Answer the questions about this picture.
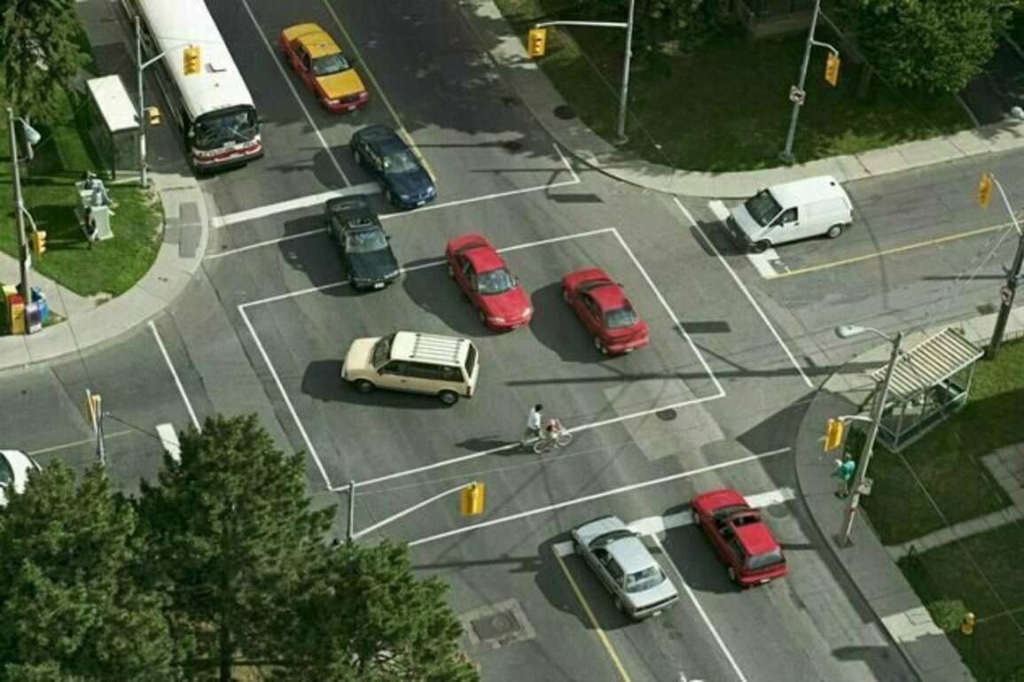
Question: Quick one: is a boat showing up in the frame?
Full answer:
No, I can't see a single boat in this photo.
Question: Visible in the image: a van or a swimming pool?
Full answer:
It is a van that can be seen here.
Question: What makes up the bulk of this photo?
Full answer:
For the most part, this view shows paved ground.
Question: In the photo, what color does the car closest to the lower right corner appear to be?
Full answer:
The color of the car closest to the lower right corner is red.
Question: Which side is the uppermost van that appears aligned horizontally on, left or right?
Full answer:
The uppermost van that appears aligned horizontally is on the right side of the image.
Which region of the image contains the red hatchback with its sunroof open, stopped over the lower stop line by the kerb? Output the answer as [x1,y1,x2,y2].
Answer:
[689,484,790,589]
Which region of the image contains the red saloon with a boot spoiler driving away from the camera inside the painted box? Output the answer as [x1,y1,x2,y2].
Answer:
[558,263,655,357]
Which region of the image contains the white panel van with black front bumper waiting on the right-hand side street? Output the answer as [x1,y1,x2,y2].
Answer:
[725,172,861,254]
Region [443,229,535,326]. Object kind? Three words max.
car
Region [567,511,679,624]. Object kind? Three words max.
car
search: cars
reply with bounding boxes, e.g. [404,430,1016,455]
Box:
[443,229,535,326]
[340,329,482,404]
[321,186,401,284]
[558,263,655,357]
[567,511,679,624]
[0,457,43,512]
[274,17,370,109]
[349,119,437,207]
[689,484,790,589]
